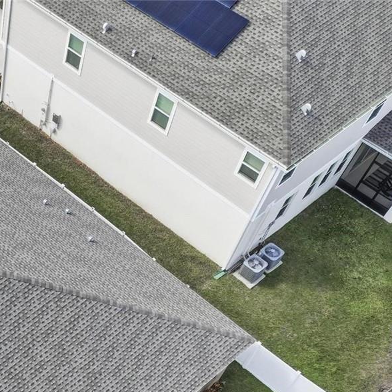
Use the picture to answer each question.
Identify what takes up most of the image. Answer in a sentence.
The scene is dominated by buildings.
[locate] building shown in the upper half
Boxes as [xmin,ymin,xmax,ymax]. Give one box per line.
[0,0,392,271]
